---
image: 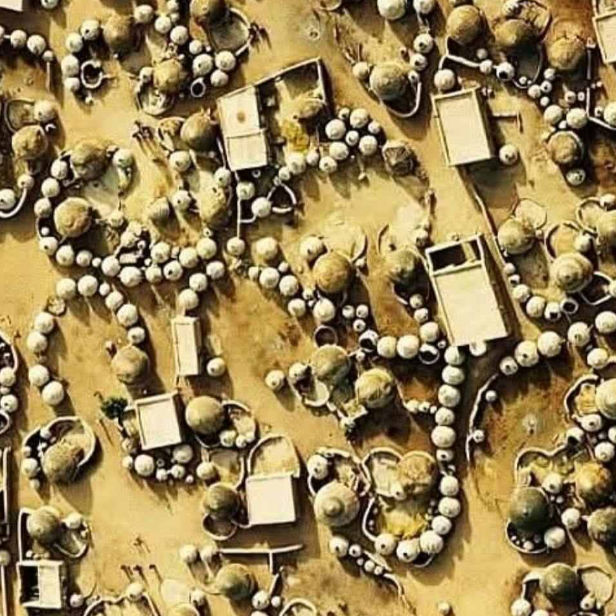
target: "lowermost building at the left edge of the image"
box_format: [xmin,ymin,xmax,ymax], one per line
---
[19,557,68,608]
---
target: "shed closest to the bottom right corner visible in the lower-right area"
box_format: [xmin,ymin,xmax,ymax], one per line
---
[539,560,580,601]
